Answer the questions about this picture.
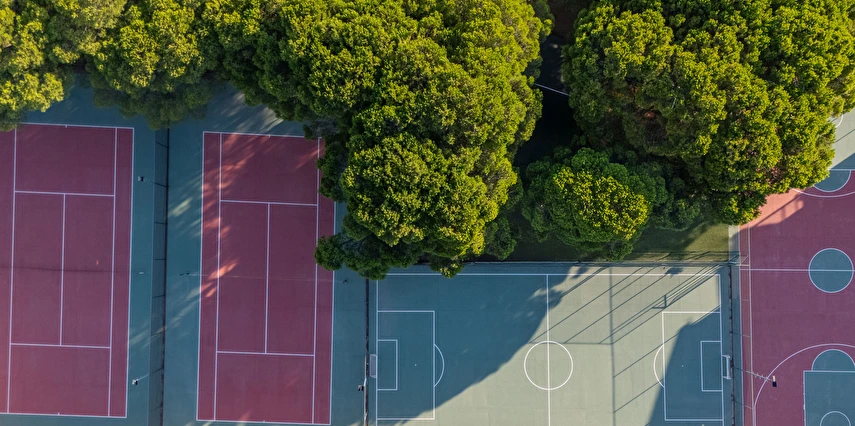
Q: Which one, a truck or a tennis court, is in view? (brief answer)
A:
tennis court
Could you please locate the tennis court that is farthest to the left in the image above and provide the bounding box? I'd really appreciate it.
[0,28,167,426]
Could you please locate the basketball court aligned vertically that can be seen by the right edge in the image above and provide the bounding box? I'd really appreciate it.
[739,18,855,426]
